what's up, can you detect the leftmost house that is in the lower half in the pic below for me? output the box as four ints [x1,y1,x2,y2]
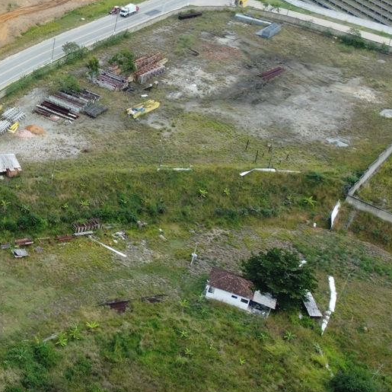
[207,271,282,323]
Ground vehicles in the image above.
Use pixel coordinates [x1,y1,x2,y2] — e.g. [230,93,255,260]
[116,2,140,19]
[107,5,121,15]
